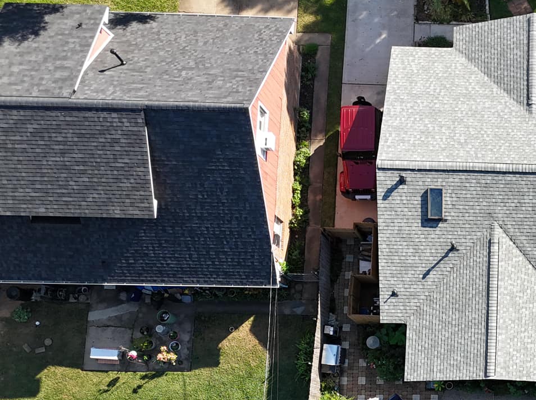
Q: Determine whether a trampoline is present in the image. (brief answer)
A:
No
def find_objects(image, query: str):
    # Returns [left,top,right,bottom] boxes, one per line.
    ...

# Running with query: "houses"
[0,7,305,289]
[375,16,536,381]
